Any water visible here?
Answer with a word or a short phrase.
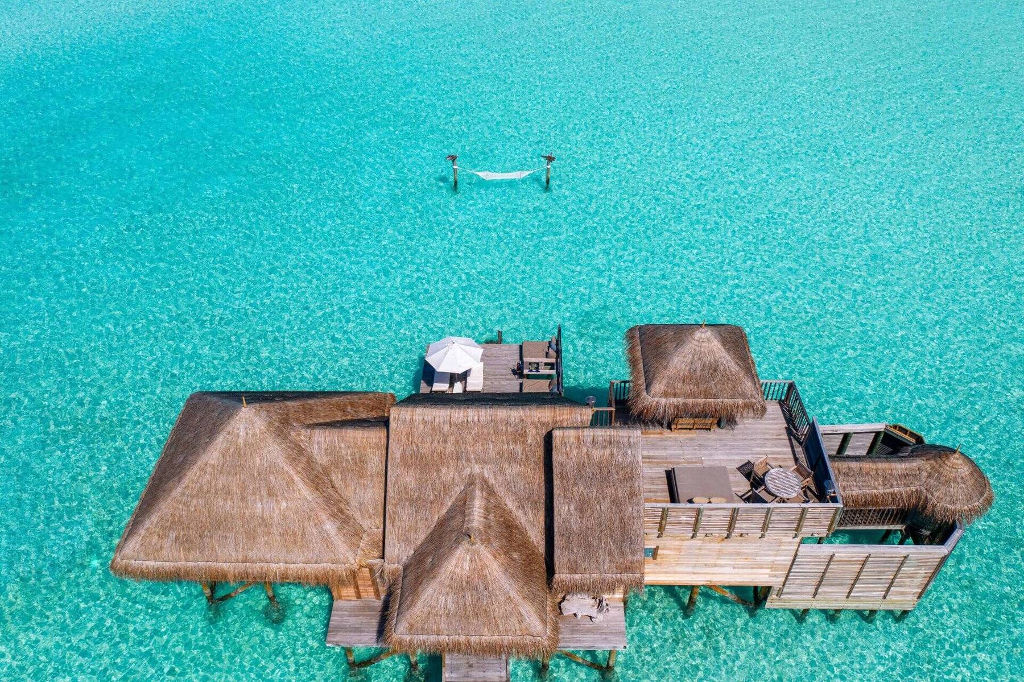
Yes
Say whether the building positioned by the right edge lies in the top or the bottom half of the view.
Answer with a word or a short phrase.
bottom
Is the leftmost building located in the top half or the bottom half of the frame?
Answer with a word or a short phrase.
bottom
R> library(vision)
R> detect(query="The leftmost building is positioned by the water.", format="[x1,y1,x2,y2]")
[105,383,398,622]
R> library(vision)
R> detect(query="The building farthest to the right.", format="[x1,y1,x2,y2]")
[814,441,997,545]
